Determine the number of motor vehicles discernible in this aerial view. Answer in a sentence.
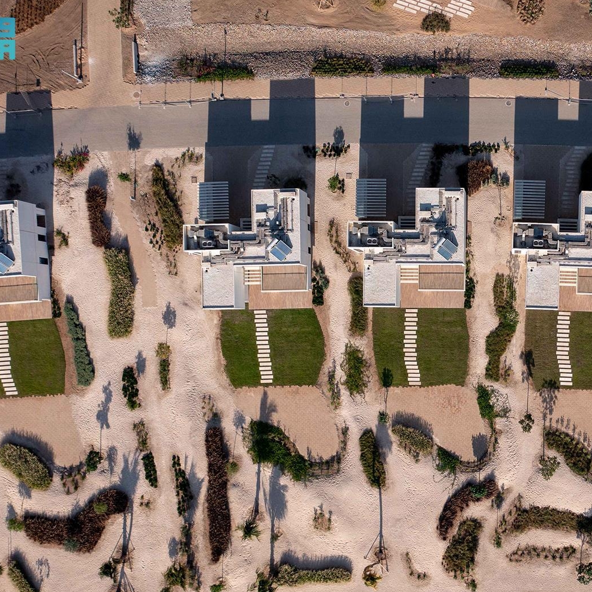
The count of motor vehicles is 0.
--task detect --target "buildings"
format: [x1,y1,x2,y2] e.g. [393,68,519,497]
[348,188,466,308]
[183,189,314,310]
[511,192,592,312]
[0,200,54,322]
